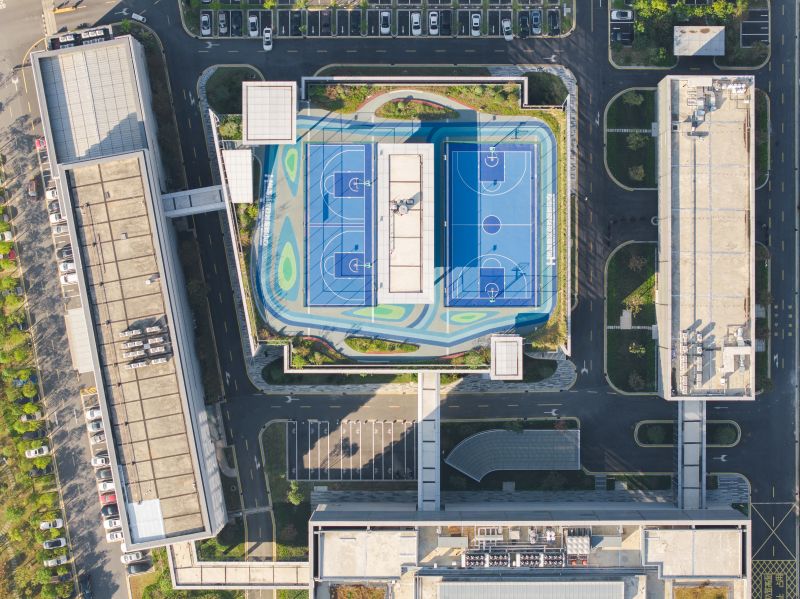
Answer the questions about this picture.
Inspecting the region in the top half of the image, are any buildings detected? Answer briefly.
Yes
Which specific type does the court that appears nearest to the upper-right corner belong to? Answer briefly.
basketball court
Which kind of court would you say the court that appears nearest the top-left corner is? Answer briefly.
basketball court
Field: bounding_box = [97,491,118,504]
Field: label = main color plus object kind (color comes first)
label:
red vehicle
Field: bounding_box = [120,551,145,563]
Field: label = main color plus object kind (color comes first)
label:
white vehicle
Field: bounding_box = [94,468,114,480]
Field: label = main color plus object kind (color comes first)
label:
gray vehicle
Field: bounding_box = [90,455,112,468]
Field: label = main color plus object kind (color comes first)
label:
white vehicle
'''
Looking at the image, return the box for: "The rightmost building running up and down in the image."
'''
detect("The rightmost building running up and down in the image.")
[657,75,755,401]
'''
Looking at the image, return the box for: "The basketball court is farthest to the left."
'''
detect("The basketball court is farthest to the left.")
[306,143,378,306]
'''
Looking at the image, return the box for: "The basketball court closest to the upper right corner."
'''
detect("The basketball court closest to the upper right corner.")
[444,141,541,307]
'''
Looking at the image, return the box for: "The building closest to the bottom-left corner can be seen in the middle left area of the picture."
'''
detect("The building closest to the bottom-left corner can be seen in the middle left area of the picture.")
[52,150,224,551]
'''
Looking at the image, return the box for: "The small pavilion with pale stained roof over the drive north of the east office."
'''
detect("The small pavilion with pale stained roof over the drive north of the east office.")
[673,26,726,55]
